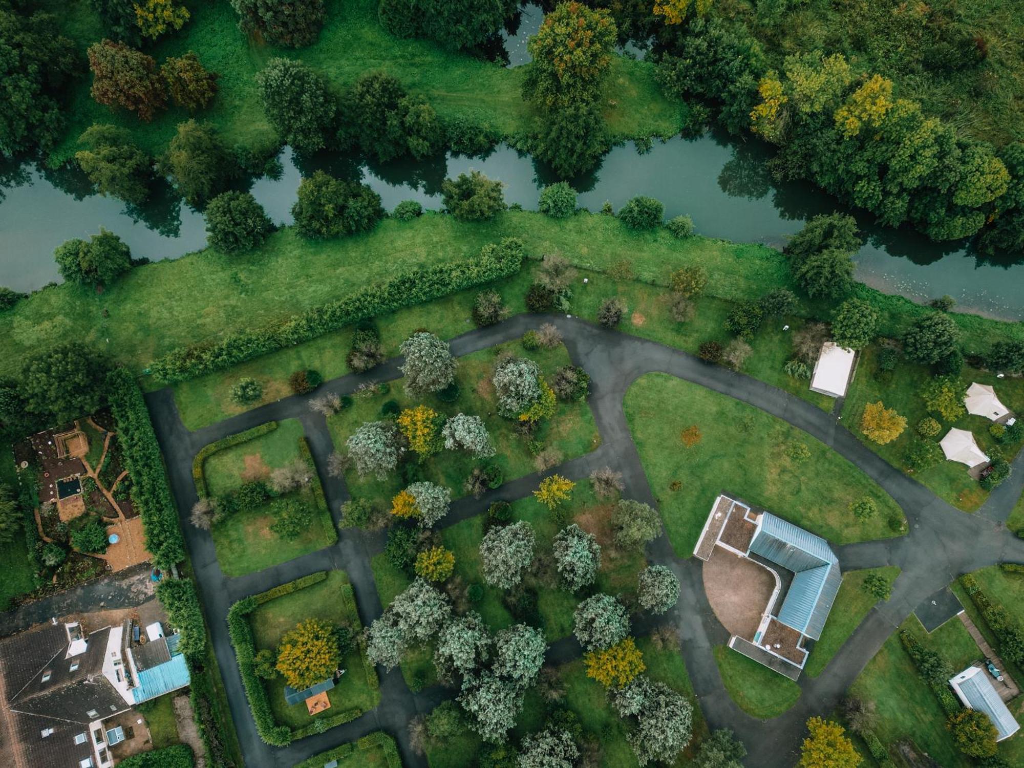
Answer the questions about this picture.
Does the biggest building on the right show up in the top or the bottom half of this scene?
bottom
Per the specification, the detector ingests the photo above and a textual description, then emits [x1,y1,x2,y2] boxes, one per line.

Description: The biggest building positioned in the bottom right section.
[691,494,842,681]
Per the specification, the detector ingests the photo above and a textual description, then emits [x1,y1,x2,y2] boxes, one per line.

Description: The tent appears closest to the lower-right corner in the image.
[937,427,988,468]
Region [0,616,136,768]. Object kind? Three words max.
house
